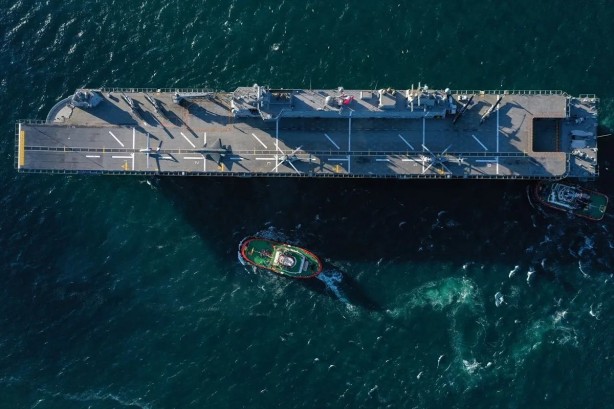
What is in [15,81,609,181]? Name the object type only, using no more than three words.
ship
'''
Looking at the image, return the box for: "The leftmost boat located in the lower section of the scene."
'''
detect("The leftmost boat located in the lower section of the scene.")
[239,236,322,277]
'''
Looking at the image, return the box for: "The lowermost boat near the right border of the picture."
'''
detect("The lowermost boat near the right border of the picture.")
[532,181,608,226]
